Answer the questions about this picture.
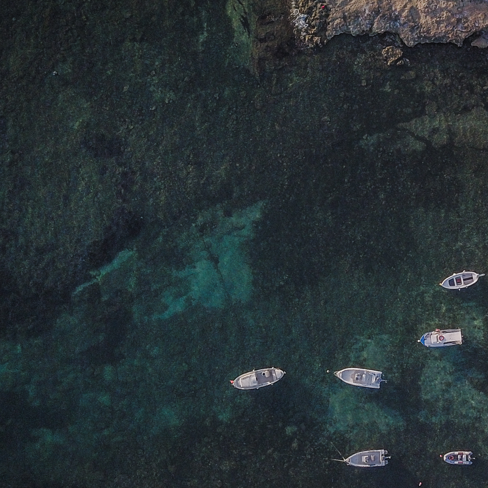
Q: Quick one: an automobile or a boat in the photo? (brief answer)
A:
boat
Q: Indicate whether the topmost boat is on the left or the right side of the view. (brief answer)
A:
right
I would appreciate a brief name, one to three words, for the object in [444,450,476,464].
boat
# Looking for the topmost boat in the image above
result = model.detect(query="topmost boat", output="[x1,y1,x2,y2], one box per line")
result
[438,268,486,290]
